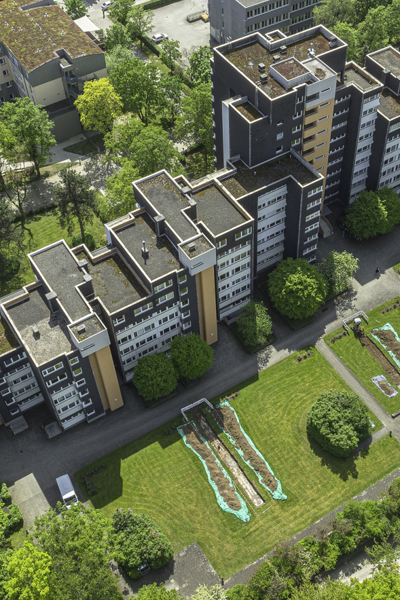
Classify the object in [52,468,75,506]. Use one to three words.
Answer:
vehicle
